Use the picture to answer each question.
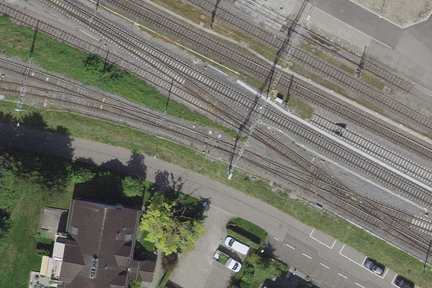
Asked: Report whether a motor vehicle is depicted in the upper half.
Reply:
No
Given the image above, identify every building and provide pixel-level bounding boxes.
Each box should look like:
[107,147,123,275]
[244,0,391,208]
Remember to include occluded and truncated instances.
[41,201,150,288]
[38,208,68,236]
